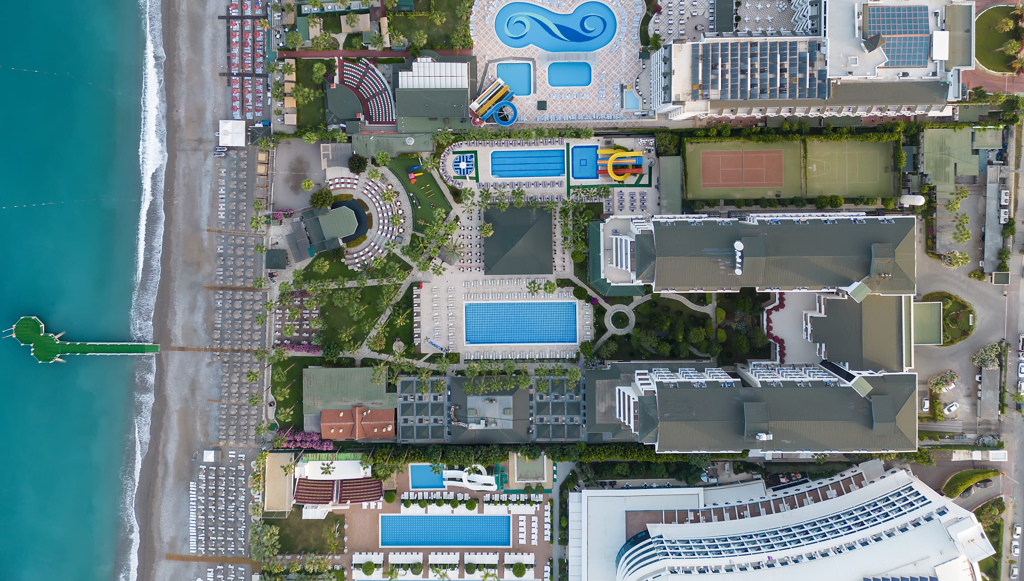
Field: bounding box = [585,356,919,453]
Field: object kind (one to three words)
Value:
building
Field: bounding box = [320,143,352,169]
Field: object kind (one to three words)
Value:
shed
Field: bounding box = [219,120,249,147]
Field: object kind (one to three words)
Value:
tent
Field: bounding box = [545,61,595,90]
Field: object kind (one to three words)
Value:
swimming pool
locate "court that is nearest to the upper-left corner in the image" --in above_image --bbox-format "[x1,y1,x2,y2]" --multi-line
[272,138,327,210]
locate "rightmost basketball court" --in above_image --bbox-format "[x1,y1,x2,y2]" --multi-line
[807,141,894,198]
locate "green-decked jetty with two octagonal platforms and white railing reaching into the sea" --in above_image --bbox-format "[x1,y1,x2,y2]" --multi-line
[2,316,162,363]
